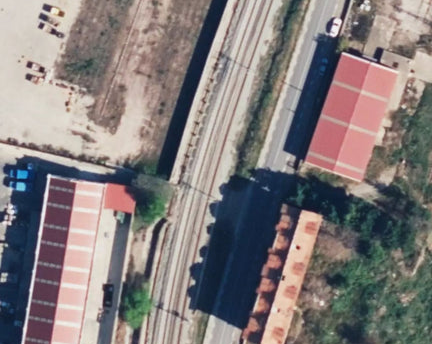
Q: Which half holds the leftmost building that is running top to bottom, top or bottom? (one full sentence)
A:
The leftmost building that is running top to bottom sits in the bottom half of the picture.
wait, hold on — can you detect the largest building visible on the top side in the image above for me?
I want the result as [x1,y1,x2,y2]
[304,52,397,183]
